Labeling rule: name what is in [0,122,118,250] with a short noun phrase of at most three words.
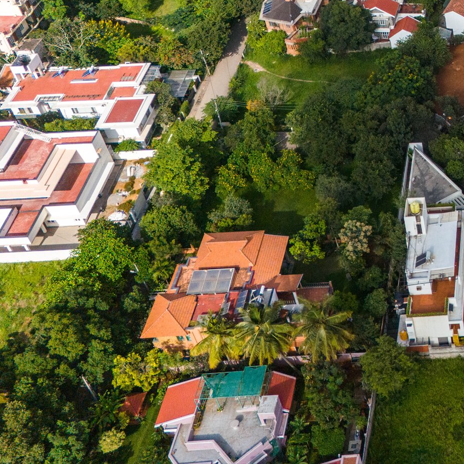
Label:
house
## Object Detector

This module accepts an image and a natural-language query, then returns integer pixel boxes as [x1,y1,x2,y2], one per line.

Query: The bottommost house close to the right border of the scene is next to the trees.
[391,199,464,361]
